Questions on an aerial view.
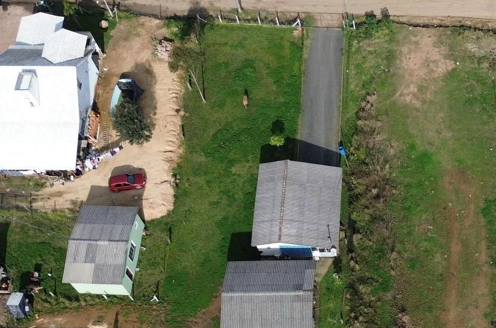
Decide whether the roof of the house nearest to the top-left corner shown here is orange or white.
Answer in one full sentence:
In this view, the roof of the house nearest to the top-left corner is white.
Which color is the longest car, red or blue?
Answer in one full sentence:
The longest car is red.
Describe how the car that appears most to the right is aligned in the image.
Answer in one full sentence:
The car that appears most to the right is laid out from left to right.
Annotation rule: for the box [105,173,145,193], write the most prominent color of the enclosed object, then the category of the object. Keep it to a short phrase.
red car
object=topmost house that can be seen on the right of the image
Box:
[252,160,343,261]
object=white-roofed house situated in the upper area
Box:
[0,12,106,180]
